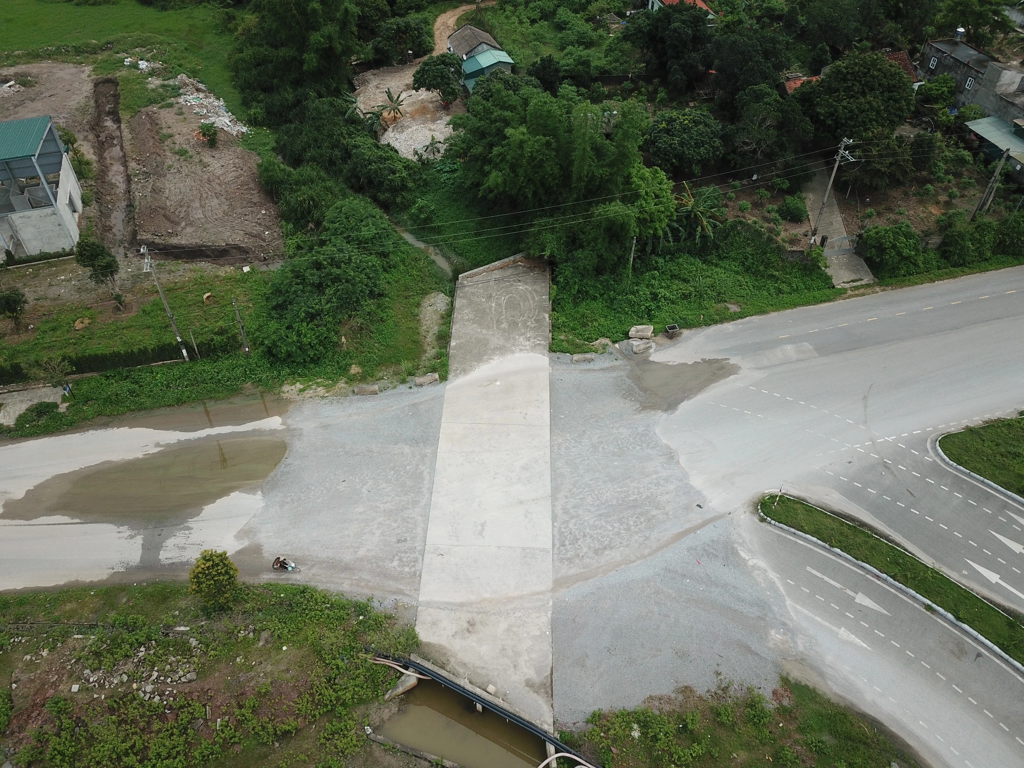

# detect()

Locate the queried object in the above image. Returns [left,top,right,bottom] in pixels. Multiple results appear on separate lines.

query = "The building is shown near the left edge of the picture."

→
[0,115,85,266]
